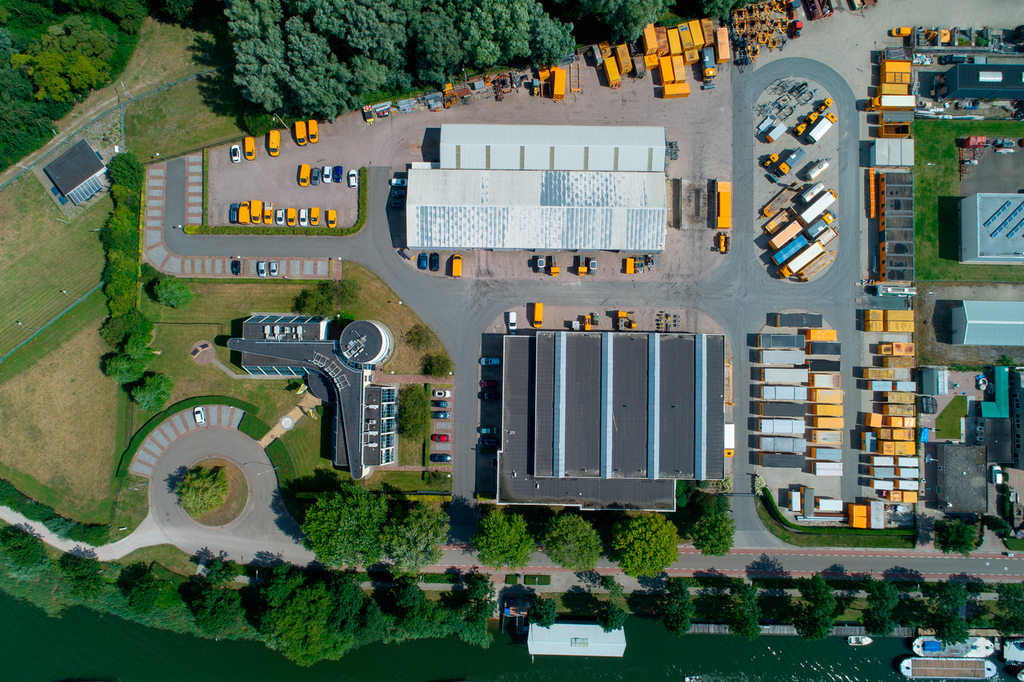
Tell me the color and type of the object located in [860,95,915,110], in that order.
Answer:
white vehicle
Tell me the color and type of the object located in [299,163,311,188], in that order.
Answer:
orange vehicle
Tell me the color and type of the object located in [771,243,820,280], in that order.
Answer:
white truck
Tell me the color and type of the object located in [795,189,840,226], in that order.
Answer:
white trailer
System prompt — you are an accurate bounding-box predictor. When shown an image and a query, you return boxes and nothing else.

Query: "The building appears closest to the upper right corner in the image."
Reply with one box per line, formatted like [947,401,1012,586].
[941,61,1024,99]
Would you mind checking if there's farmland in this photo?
No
